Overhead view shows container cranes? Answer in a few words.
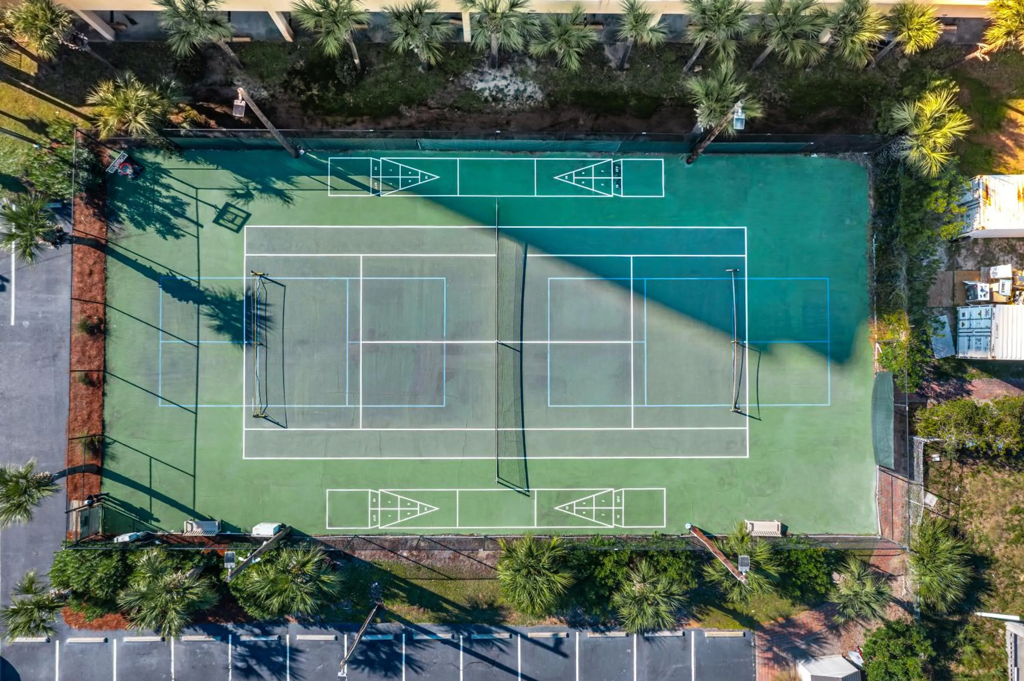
No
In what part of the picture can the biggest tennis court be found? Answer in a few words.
center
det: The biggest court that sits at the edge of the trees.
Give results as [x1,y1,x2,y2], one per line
[101,150,879,535]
